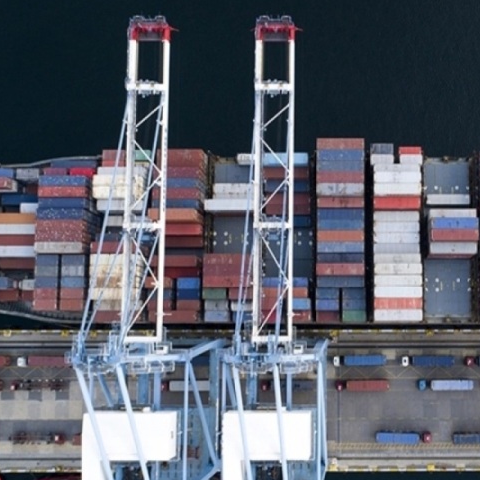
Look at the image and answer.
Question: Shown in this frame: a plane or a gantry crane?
gantry crane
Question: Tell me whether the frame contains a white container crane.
Yes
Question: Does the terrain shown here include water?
Yes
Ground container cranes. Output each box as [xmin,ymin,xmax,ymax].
[62,13,237,480]
[218,14,345,480]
